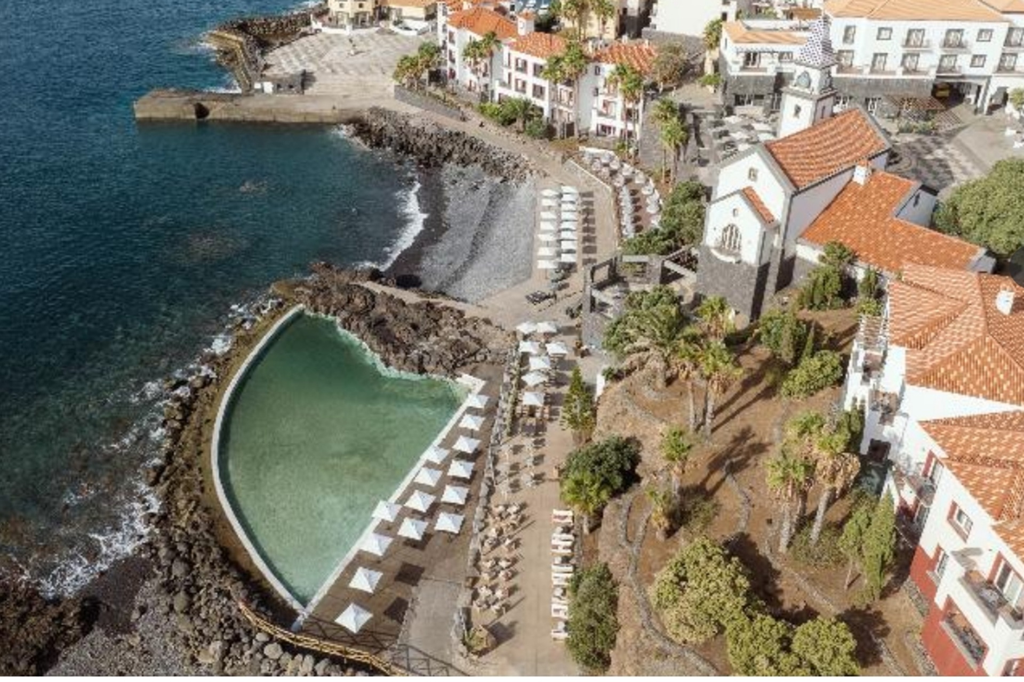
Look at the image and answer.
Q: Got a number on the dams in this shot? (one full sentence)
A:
No dams are visible.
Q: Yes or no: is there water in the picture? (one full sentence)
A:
Yes, there is water in the image.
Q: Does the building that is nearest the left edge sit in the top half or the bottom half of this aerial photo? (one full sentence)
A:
It is in the top half that the building that is nearest the left edge appears.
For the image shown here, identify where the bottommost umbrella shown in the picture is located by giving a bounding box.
[333,607,371,642]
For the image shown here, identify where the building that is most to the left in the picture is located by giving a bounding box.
[274,69,316,95]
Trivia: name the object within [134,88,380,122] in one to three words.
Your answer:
pier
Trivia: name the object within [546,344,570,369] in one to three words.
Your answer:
umbrella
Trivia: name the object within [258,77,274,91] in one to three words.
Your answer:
vehicle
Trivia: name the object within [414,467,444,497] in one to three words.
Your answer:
umbrella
